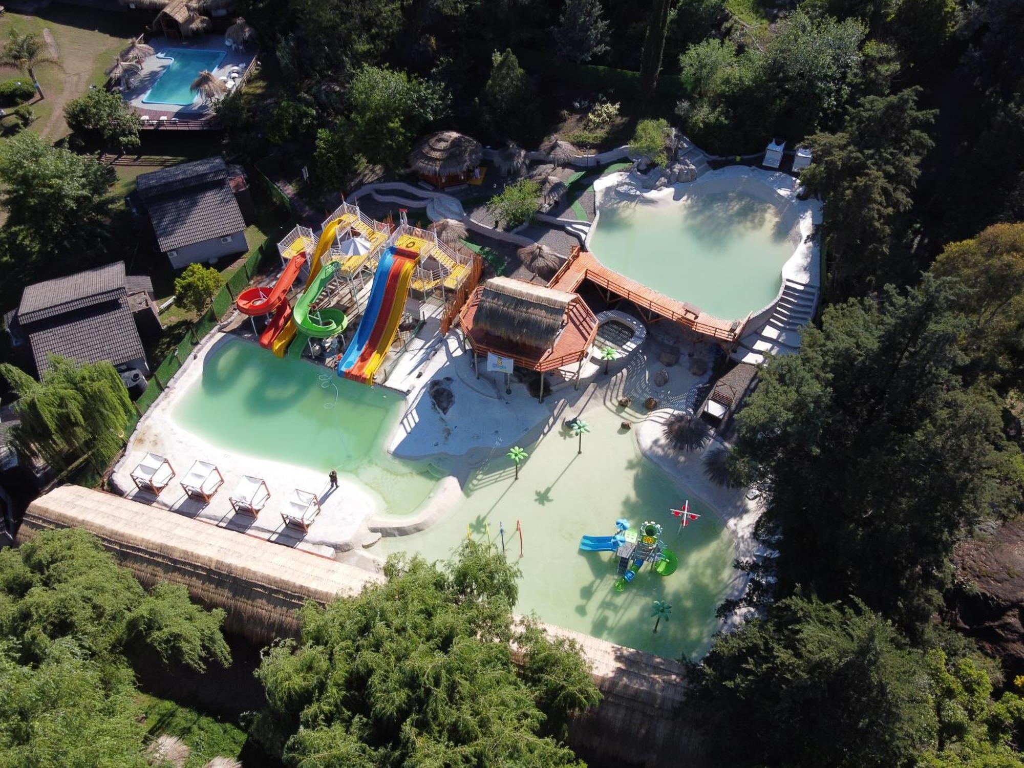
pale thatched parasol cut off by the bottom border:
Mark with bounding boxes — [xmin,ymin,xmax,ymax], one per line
[203,739,265,768]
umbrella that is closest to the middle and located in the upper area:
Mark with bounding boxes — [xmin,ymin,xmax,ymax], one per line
[512,241,565,289]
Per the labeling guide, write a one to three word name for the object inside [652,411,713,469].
umbrella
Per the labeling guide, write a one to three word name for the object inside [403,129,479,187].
shed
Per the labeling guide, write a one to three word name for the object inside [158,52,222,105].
swimming pool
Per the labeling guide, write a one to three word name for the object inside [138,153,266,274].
house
